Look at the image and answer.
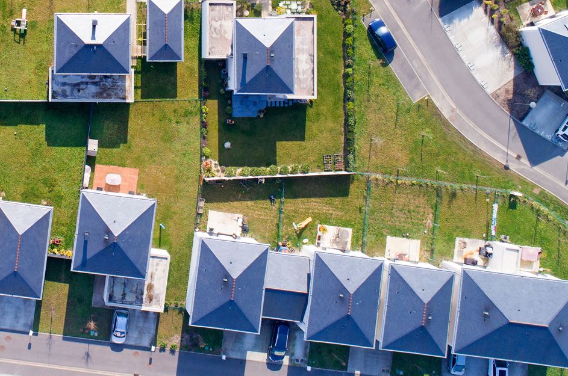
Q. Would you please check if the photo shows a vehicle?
Yes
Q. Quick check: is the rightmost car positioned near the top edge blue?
Yes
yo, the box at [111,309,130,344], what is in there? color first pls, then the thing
blue car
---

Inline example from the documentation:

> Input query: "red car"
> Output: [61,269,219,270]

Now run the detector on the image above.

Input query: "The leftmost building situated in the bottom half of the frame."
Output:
[0,201,53,299]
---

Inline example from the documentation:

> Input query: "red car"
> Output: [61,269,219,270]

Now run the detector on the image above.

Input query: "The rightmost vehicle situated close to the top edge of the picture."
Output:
[369,18,396,54]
